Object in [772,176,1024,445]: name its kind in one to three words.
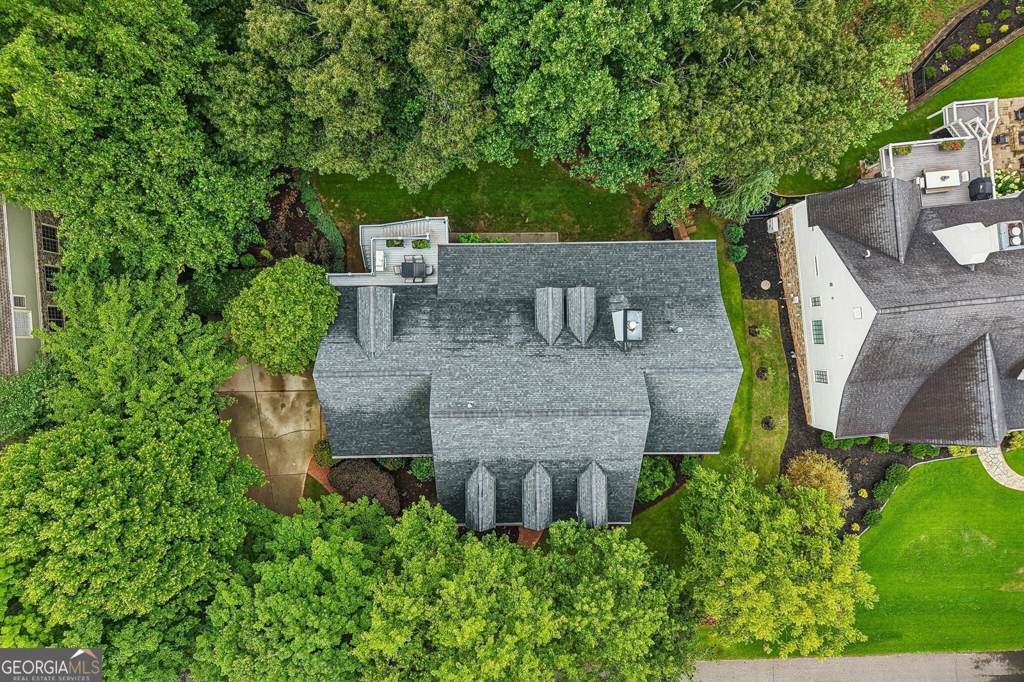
house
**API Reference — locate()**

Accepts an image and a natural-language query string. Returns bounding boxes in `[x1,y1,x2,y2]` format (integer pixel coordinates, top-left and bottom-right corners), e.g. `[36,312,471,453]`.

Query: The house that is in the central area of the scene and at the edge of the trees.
[313,240,743,532]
